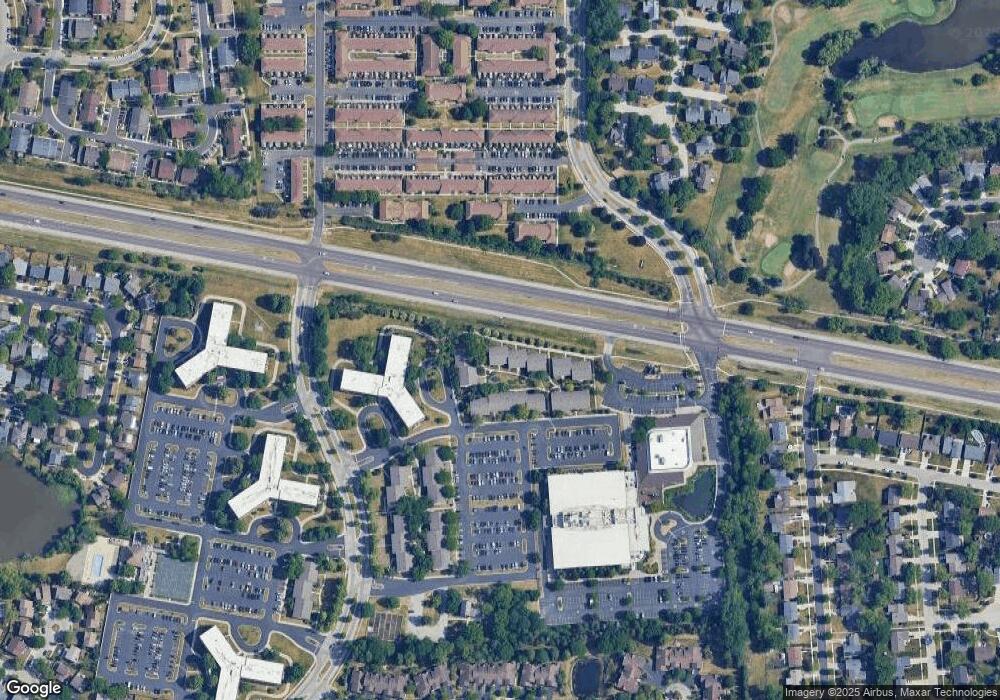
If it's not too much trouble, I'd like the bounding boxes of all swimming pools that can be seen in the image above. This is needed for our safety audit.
[67,535,119,583]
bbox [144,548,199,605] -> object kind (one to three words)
sports court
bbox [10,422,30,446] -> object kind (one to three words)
house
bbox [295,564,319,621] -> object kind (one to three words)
building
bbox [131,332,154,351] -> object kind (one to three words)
house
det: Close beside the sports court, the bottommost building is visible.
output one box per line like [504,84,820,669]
[199,626,284,700]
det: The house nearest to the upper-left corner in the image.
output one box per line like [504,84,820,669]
[26,3,44,32]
